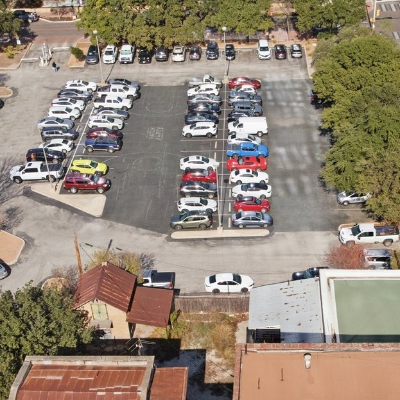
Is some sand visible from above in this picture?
No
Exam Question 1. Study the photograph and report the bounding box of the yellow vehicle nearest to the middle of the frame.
[70,159,107,175]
